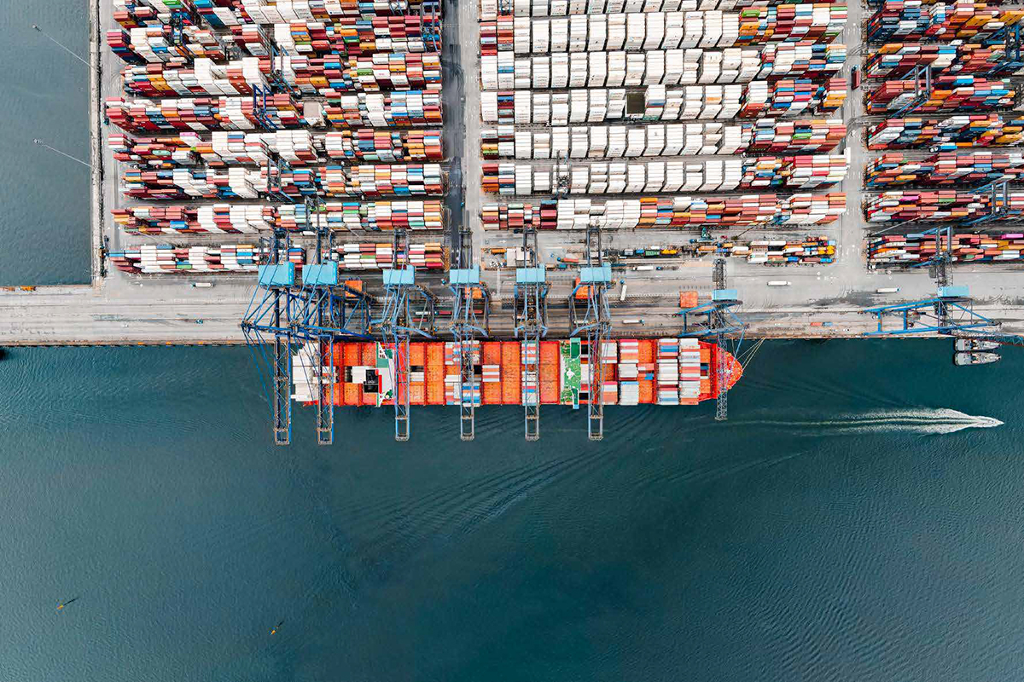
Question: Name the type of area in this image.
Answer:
port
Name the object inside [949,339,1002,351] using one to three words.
boat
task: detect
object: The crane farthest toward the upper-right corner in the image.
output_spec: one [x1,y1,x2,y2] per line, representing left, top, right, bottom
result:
[963,14,1021,79]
